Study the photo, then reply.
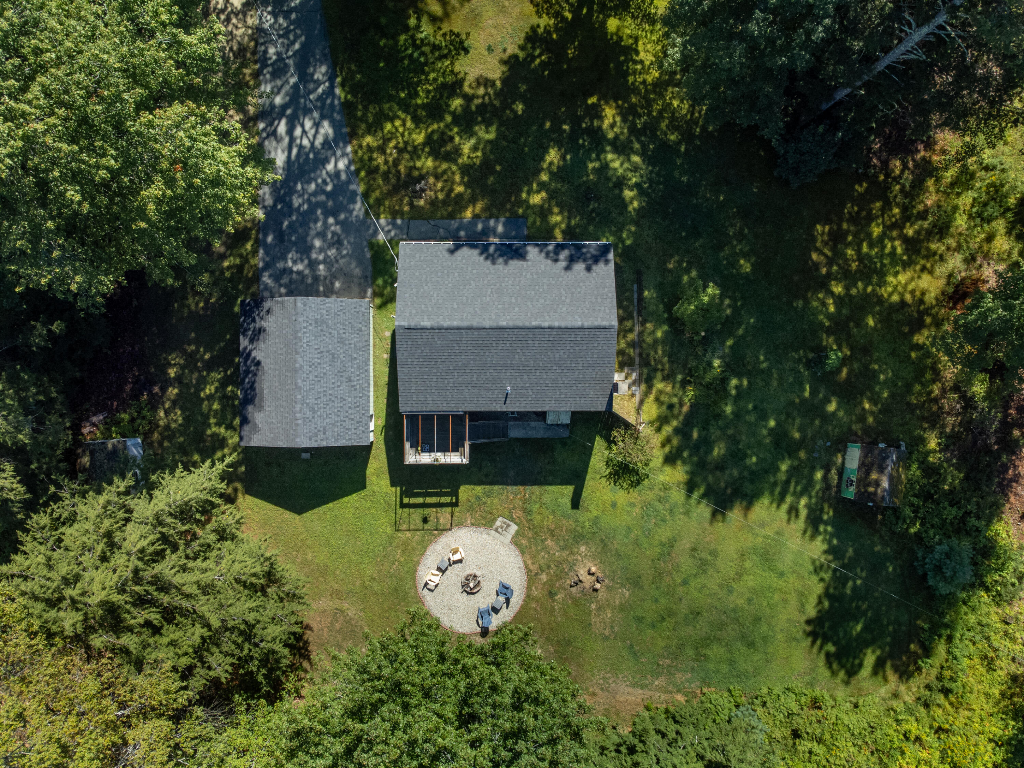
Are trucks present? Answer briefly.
No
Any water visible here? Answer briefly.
No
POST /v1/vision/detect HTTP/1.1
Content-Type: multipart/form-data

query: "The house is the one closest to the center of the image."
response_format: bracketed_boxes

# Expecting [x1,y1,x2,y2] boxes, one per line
[391,239,628,416]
